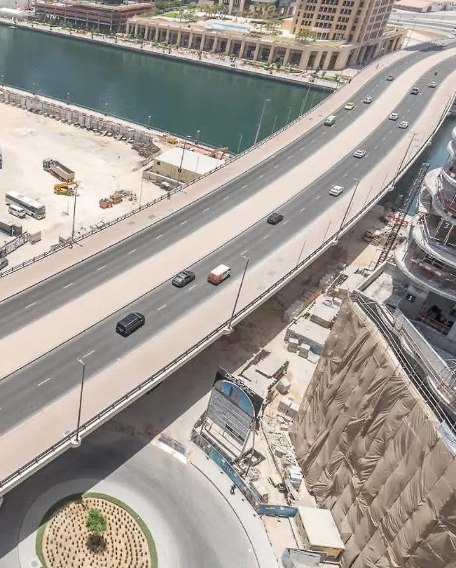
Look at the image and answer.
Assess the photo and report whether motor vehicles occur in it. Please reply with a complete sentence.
Yes, looking at the shot, I can spot a motor vehicle.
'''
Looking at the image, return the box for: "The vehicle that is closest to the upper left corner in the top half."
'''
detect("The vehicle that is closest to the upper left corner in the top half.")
[43,158,73,178]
